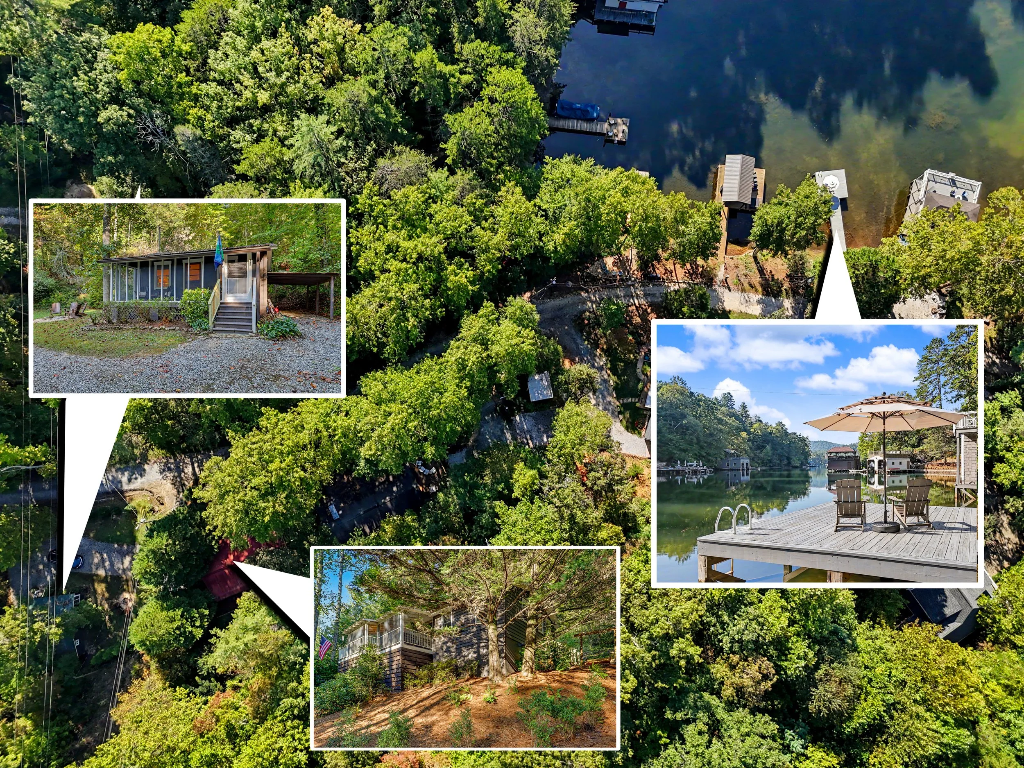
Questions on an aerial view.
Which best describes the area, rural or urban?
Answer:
rural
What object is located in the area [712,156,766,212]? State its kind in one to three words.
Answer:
building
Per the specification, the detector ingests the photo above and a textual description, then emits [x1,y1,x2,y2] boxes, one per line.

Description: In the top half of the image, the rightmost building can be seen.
[888,169,981,229]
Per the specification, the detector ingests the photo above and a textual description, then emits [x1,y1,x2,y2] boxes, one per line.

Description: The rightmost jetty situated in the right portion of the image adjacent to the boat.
[605,113,628,144]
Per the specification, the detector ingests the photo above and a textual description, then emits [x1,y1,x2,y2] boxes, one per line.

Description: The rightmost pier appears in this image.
[814,169,849,202]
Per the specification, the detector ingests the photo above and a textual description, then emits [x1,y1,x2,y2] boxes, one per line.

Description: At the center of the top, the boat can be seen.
[553,101,599,120]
